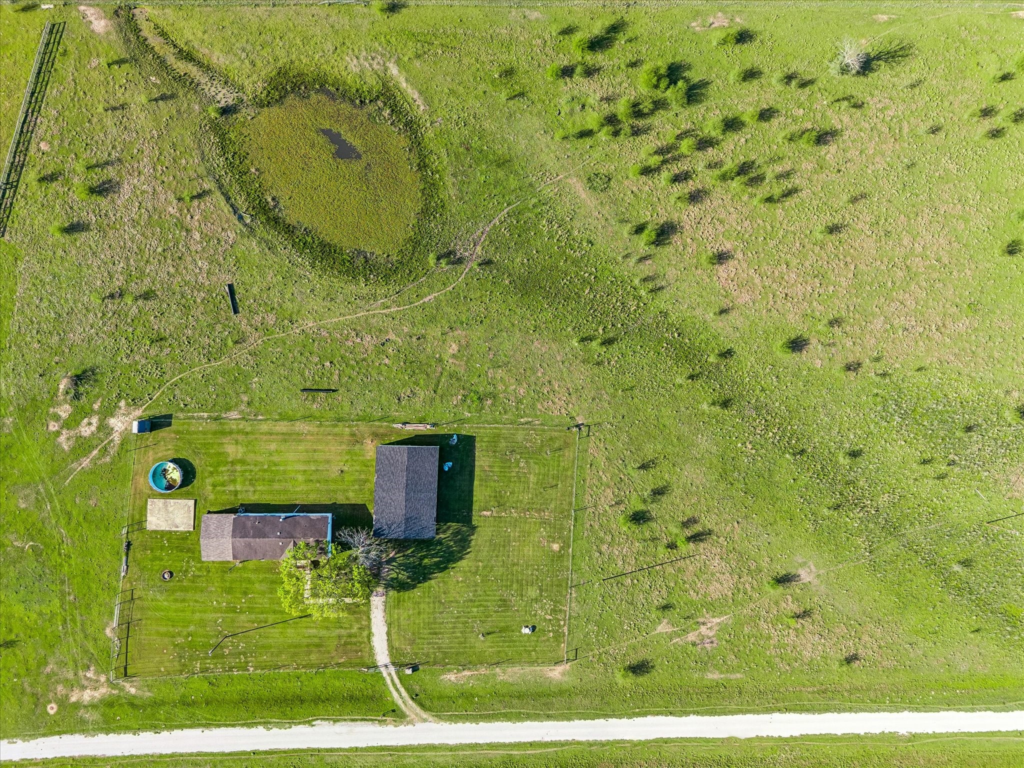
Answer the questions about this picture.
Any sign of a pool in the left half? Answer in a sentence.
Yes, a pool is visible in the left half.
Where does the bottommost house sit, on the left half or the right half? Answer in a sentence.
It is on the left.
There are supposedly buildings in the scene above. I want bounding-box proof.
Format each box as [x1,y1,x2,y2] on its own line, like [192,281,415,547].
[374,445,438,539]
[198,513,333,563]
[133,420,151,433]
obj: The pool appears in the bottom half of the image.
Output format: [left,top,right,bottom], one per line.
[148,456,187,495]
